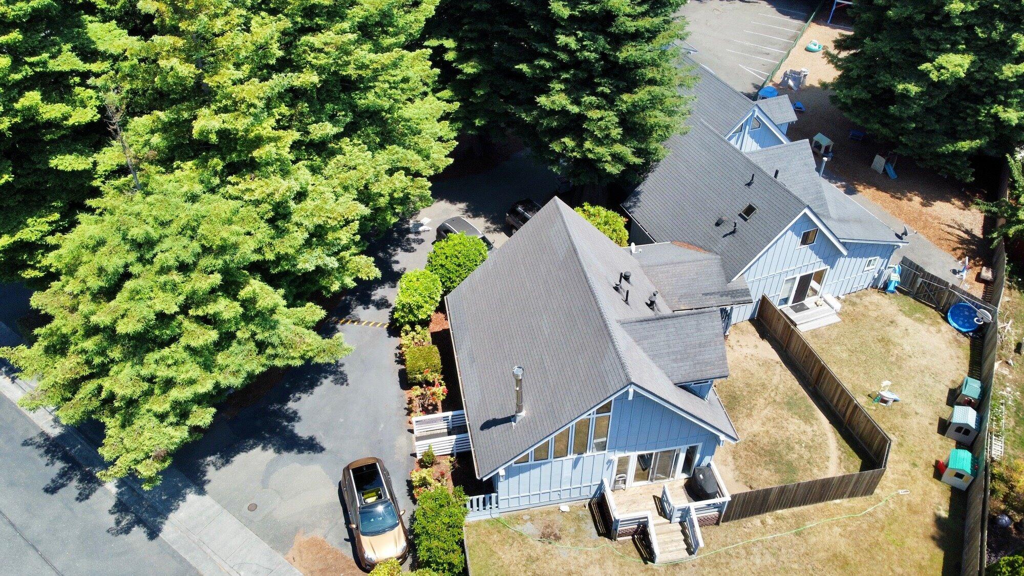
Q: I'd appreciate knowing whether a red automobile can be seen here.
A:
No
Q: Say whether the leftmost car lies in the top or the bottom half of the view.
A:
bottom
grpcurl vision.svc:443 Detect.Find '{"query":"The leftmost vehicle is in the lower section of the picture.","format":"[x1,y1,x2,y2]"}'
[344,460,410,572]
